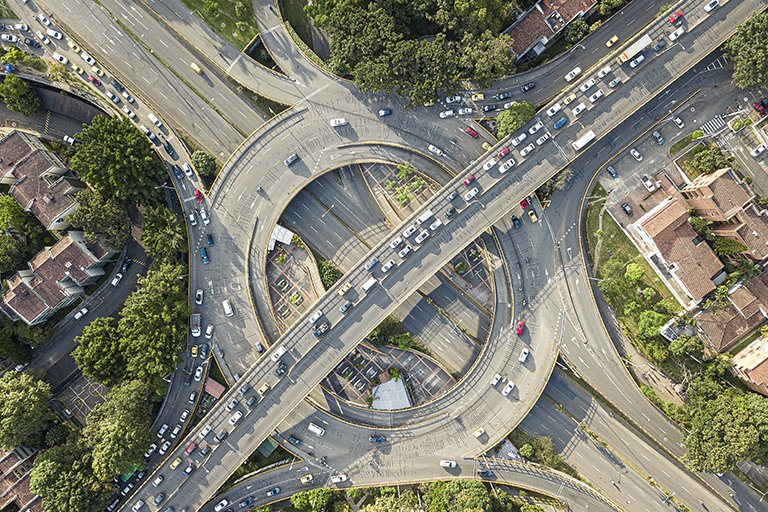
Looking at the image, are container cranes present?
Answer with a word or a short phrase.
No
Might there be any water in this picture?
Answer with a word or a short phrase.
No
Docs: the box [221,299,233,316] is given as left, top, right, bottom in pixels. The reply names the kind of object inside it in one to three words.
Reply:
vehicle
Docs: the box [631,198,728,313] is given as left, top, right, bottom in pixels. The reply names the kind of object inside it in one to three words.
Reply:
house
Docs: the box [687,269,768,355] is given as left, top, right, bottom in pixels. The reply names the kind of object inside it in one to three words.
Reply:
house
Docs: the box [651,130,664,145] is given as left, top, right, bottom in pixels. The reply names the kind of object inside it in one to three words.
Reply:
vehicle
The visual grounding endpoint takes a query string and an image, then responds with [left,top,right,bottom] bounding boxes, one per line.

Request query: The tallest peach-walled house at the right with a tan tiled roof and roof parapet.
[683,168,760,232]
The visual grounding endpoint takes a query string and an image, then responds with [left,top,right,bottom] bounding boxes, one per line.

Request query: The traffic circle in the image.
[203,76,564,493]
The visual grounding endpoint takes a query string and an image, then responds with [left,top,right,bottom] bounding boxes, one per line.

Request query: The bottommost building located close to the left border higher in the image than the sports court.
[4,238,122,325]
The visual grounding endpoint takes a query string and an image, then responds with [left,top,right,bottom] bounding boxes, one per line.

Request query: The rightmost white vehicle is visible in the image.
[751,143,766,157]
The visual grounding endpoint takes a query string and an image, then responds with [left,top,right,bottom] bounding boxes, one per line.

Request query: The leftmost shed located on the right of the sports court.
[202,375,228,400]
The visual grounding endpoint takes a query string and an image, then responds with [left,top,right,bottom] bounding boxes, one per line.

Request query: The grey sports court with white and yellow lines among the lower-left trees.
[56,376,115,424]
